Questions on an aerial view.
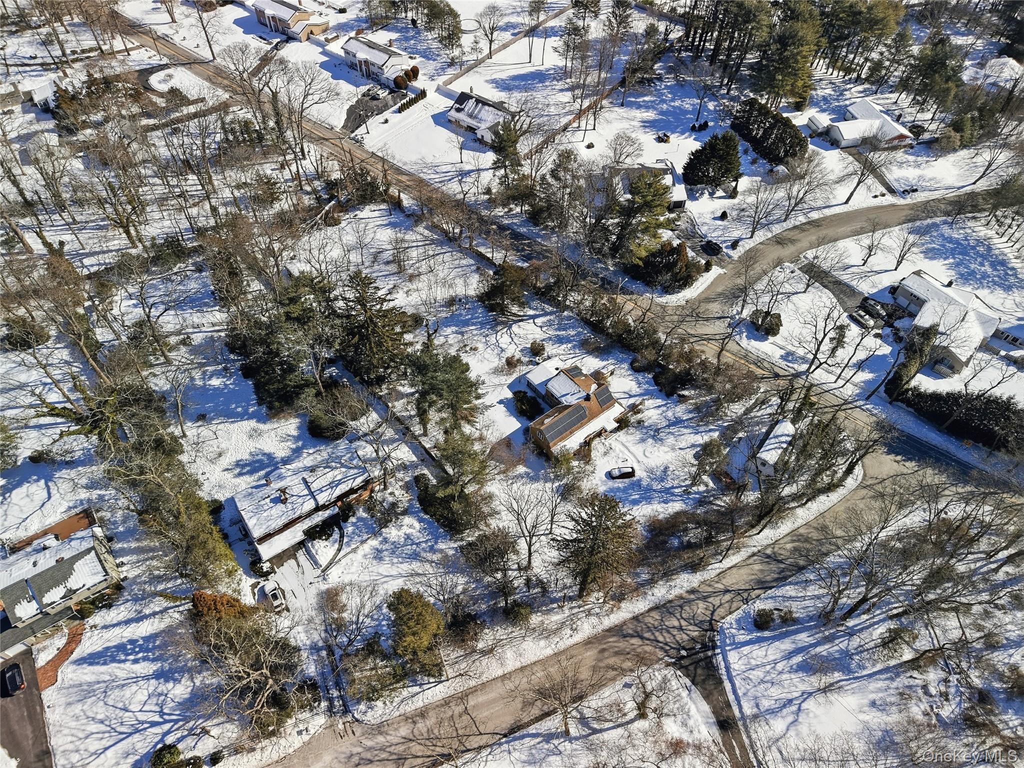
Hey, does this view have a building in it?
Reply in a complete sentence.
Yes, looking at the shot, I can spot a building.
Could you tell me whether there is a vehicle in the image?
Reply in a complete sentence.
Yes, there's a vehicle here.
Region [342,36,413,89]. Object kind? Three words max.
house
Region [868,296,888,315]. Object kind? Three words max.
car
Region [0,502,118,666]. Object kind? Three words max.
house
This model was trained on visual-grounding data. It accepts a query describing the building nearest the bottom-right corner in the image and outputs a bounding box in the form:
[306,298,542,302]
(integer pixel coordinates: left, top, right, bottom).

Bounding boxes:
[743,419,794,477]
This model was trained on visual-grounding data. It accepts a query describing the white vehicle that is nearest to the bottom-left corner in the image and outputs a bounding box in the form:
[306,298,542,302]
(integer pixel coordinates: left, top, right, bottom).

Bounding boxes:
[264,581,285,612]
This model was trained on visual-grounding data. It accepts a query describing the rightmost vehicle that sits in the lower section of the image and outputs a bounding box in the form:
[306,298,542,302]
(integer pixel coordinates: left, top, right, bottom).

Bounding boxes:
[609,466,637,480]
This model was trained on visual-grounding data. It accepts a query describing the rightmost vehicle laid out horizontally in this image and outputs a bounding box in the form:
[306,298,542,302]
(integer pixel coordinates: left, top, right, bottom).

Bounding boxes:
[701,240,723,252]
